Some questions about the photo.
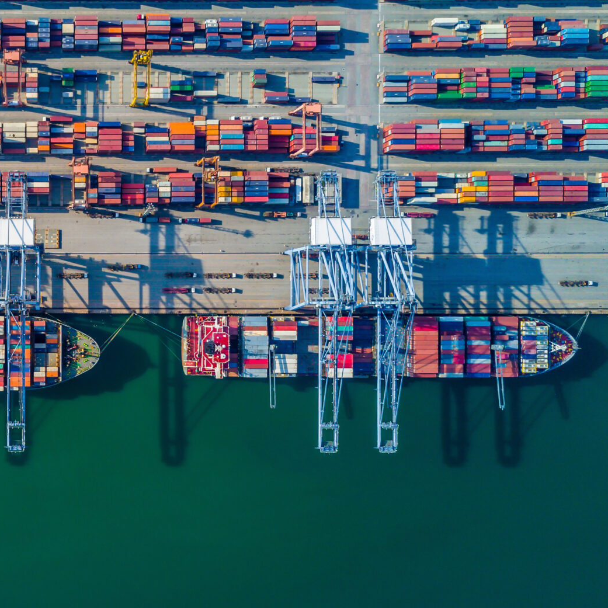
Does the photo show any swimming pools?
No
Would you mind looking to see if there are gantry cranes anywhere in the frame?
Yes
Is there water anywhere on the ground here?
Yes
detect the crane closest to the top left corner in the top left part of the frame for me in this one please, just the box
[1,42,25,105]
